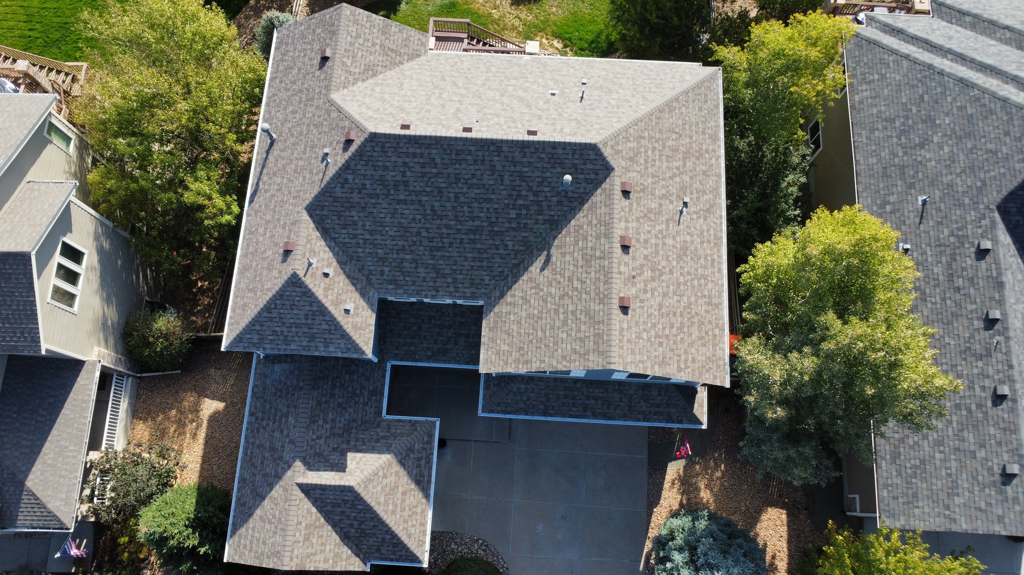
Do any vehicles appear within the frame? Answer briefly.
No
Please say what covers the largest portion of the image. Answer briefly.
buildings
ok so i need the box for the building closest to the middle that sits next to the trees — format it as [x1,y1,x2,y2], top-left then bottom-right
[219,3,732,572]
